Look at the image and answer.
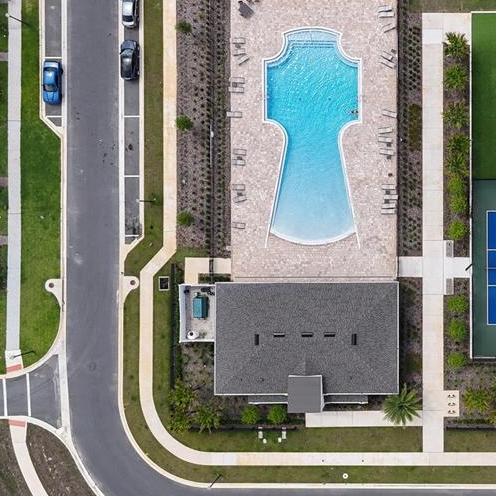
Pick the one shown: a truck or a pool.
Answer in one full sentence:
I can see a pool in this picture.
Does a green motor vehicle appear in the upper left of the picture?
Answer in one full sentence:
No, no green motor vehicle can be made out in the upper left of the picture.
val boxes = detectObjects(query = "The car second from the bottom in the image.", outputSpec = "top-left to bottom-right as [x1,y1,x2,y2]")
[119,41,140,81]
